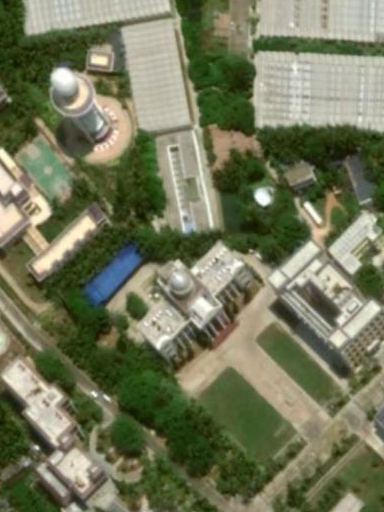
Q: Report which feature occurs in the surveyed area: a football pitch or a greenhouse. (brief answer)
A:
greenhouse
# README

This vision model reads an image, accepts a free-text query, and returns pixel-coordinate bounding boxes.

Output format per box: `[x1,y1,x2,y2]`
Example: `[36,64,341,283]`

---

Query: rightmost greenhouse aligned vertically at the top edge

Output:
[121,17,194,133]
